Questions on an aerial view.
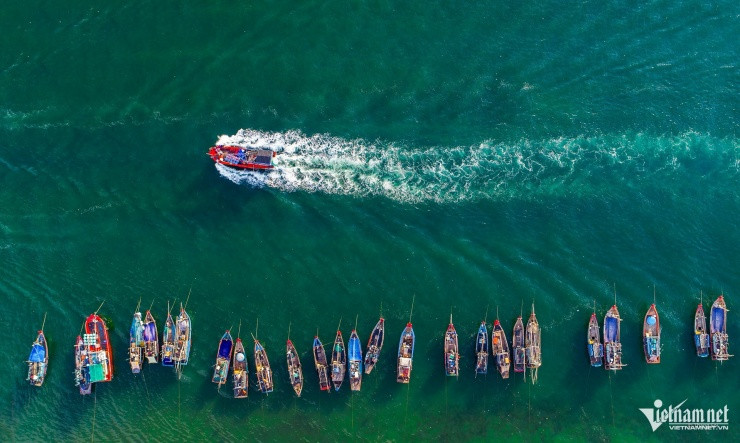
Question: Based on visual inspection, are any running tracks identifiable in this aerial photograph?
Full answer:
No, I can't see a single running track in this photo.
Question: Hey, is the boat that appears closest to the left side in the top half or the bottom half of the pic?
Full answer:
The bottom half of the photo is where the boat that appears closest to the left side is.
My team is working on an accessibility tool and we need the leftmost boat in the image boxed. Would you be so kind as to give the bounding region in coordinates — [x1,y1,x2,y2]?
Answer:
[27,314,49,385]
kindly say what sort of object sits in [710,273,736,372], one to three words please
boat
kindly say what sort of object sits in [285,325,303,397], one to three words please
boat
